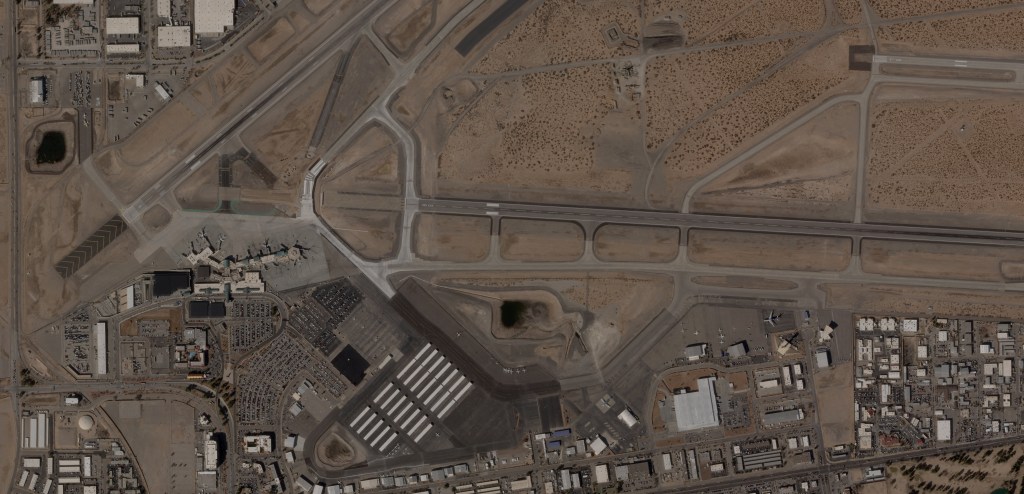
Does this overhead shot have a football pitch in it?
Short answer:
No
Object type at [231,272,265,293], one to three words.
building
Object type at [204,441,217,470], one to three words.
building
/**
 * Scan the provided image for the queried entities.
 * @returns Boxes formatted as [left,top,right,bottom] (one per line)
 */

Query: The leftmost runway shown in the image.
[122,0,398,222]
